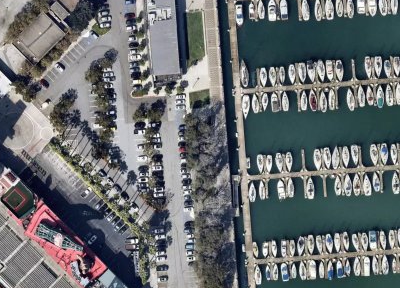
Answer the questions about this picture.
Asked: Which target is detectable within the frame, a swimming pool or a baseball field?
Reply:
baseball field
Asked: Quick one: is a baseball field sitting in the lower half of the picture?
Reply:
Yes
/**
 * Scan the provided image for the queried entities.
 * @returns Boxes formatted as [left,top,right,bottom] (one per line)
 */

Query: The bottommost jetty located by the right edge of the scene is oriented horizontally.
[253,226,400,285]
